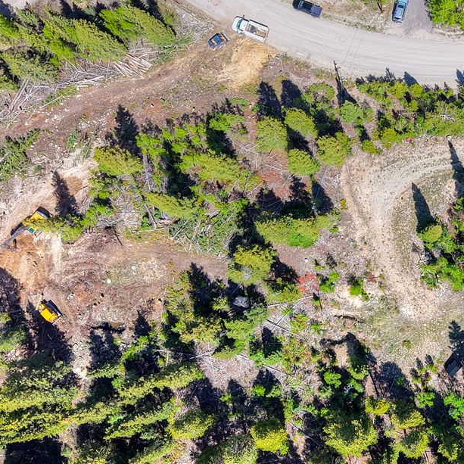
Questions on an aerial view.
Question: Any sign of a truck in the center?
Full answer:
No, no truck can be made out in the center.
